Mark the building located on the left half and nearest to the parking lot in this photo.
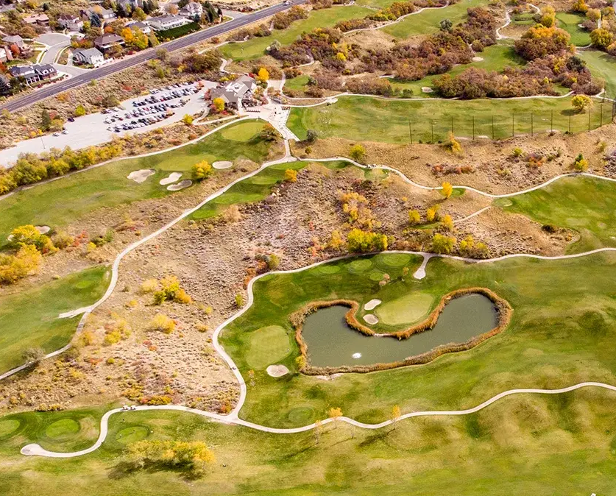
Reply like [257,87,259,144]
[209,74,274,108]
